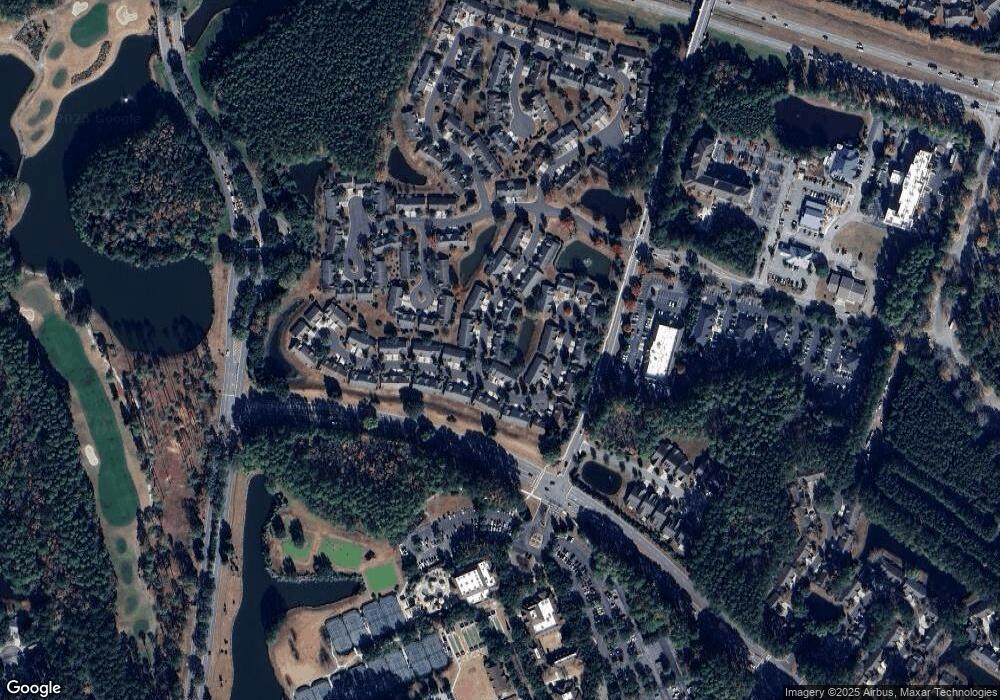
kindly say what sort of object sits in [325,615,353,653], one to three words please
tennis court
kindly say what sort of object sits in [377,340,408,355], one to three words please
house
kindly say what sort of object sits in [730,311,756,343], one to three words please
building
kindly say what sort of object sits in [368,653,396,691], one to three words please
tennis court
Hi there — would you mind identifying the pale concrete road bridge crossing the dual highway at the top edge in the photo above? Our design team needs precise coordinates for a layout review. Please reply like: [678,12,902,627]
[685,0,711,58]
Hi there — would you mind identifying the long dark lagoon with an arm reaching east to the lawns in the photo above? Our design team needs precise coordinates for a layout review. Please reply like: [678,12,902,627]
[229,474,365,700]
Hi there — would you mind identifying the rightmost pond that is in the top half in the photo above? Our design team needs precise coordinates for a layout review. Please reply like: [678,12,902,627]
[773,95,864,150]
